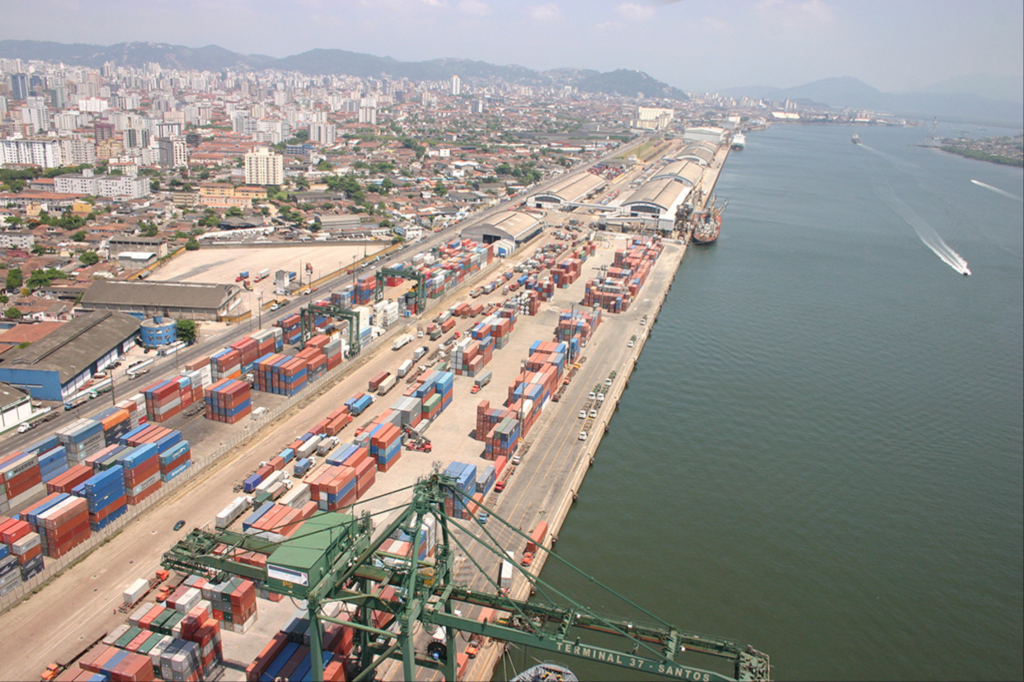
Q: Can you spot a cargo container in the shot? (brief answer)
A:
Yes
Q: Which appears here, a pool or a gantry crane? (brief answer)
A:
gantry crane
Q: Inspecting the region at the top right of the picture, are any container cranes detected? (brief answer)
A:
No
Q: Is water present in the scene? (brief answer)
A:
Yes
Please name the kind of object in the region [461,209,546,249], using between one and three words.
building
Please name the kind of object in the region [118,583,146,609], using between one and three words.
shipping container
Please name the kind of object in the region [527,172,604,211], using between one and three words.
building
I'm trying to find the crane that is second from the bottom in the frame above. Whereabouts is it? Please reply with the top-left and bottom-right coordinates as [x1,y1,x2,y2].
[296,301,364,356]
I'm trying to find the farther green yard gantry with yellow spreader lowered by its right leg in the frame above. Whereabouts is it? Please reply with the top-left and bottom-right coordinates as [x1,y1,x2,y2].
[368,264,430,311]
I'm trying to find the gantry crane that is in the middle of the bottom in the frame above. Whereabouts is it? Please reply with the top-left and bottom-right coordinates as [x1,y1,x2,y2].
[147,462,770,682]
